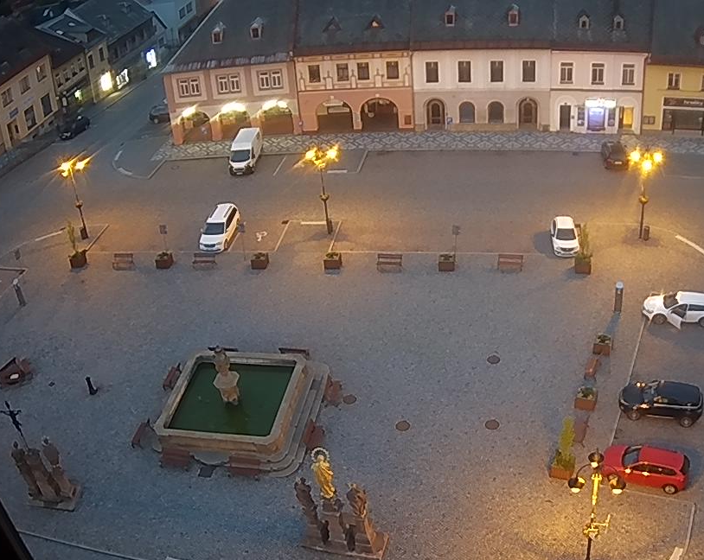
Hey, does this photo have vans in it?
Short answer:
Yes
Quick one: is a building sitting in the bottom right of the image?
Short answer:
No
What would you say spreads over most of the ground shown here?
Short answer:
paved ground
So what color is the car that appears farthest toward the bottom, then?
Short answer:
red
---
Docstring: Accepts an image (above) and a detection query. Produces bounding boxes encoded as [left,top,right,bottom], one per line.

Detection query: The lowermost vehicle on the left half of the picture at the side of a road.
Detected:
[195,202,242,252]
